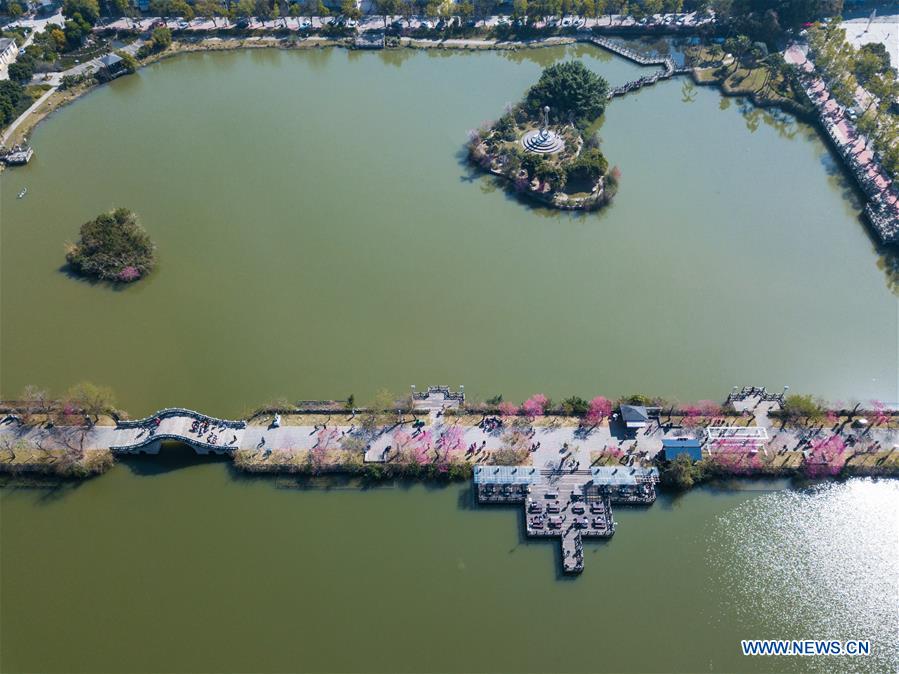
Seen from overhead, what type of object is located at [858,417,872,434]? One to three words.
umbrella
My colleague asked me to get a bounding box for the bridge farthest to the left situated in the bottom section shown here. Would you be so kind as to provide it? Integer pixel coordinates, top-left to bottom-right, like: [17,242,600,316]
[108,406,246,455]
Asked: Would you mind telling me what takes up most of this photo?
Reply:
water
